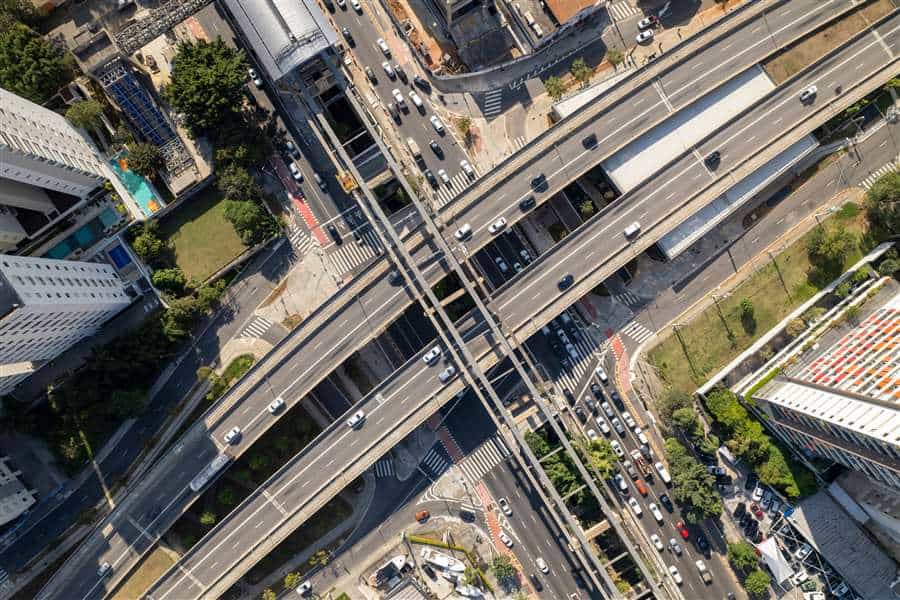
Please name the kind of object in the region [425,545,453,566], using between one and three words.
boat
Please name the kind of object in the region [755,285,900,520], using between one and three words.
building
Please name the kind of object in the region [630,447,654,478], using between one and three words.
truck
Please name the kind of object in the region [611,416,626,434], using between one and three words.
car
